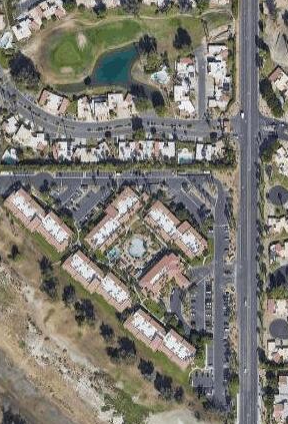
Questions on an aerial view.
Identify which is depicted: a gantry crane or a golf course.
golf course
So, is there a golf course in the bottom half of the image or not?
No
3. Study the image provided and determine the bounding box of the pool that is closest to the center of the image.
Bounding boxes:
[129,237,145,255]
